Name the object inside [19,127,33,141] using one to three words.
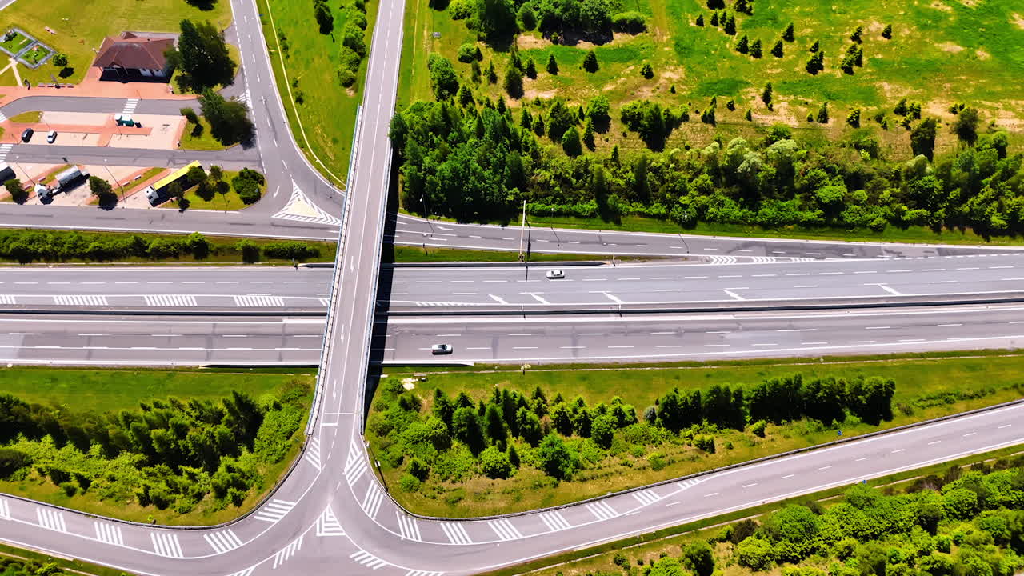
car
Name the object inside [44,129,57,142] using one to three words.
vehicle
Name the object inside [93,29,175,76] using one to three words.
building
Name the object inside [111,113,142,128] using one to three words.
vehicle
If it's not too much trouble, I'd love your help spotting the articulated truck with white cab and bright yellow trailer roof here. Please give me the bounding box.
[143,165,204,207]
